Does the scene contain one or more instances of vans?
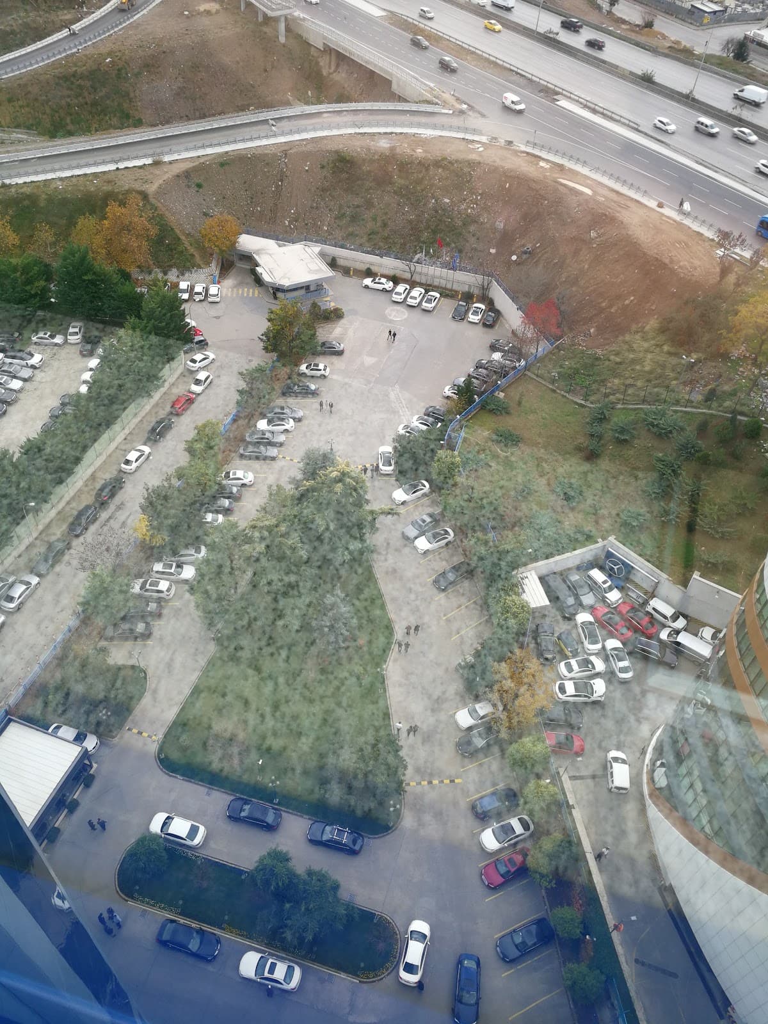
Yes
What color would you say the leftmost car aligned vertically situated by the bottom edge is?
white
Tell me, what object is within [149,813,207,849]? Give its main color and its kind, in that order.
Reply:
white car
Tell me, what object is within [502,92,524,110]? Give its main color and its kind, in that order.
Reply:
white vehicle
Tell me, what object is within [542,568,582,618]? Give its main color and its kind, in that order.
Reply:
gray van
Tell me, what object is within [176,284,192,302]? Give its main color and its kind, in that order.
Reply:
white car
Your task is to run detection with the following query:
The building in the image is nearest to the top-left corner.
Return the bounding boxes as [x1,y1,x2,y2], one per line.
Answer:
[253,228,336,306]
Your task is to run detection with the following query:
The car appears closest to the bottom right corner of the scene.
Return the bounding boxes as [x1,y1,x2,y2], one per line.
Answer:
[496,916,557,966]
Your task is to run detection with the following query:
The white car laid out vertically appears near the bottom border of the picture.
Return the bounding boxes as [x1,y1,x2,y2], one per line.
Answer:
[399,918,431,990]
